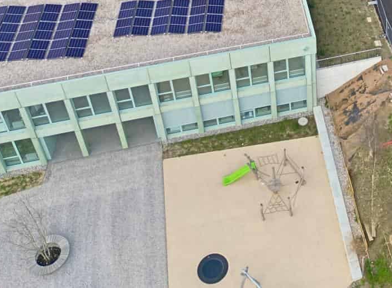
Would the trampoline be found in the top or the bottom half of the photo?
bottom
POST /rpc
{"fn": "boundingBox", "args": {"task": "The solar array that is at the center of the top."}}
[112,0,224,40]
